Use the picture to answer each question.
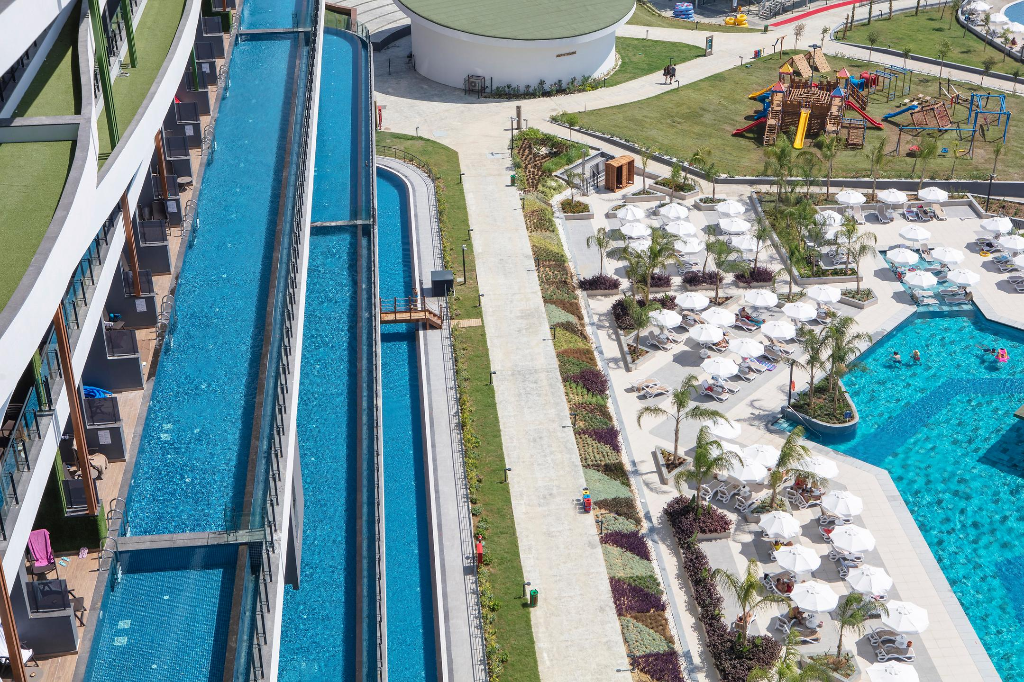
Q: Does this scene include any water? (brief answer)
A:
Yes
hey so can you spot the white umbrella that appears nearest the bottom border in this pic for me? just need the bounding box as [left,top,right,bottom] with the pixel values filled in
[864,657,921,682]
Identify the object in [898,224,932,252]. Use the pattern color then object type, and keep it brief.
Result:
white umbrella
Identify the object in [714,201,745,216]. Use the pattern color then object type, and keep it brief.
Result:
white umbrella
